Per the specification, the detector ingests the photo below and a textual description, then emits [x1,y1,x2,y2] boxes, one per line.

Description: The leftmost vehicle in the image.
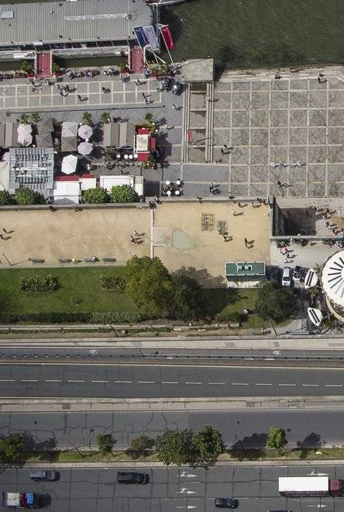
[0,493,34,507]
